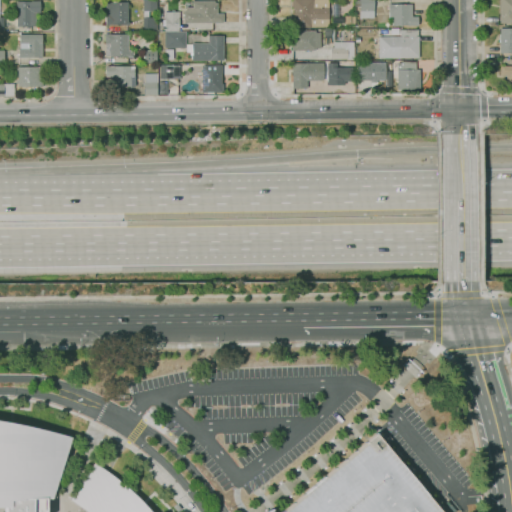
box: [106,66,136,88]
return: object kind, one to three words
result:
house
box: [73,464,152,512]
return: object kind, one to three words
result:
building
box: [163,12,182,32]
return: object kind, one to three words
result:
house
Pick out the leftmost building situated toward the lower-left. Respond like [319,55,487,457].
[0,420,74,512]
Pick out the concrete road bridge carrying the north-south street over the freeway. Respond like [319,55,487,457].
[438,125,486,290]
